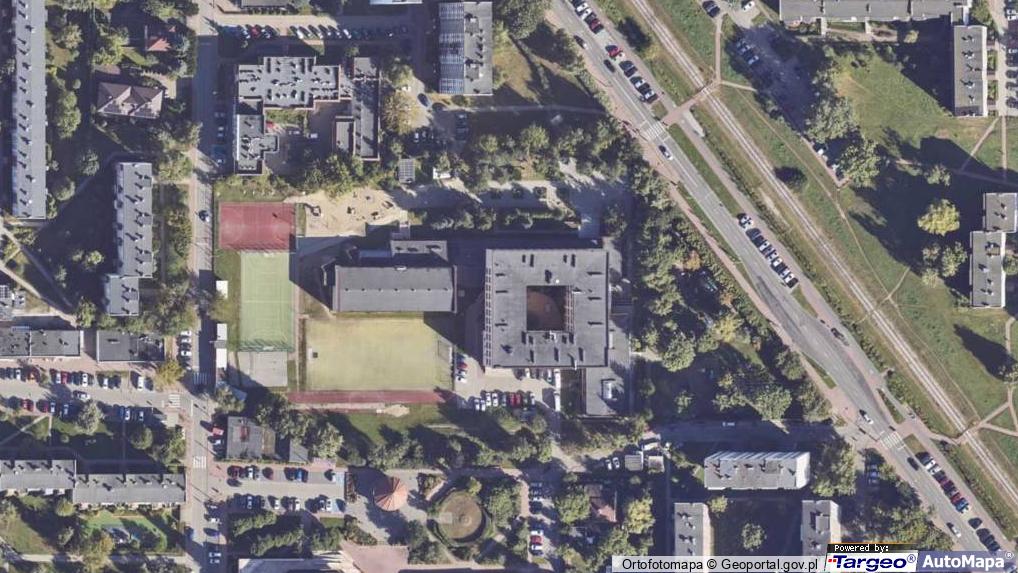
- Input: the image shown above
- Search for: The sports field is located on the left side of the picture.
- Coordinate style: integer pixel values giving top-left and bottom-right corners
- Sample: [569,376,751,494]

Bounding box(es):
[307,319,452,392]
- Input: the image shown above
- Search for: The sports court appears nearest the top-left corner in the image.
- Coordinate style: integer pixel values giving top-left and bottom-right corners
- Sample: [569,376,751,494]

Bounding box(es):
[218,202,295,250]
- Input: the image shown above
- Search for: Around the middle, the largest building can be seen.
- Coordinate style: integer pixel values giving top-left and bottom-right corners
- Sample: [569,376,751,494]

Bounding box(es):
[484,248,608,371]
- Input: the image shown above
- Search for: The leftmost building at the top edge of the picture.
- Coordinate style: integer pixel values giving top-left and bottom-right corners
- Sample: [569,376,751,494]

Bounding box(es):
[11,0,49,219]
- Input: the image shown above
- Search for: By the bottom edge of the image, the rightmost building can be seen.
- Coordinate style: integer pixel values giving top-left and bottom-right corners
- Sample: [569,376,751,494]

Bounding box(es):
[797,499,838,573]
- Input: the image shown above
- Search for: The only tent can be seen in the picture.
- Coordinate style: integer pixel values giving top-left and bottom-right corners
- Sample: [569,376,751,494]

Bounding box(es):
[373,477,407,510]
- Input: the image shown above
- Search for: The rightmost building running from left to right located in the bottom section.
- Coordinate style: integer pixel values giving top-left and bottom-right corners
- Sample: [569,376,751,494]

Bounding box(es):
[703,451,810,490]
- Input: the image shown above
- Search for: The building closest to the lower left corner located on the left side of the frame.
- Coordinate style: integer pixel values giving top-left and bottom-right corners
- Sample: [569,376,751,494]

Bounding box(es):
[0,456,77,493]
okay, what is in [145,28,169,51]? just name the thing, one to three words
house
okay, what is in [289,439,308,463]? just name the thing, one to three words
shed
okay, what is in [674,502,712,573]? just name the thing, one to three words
building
